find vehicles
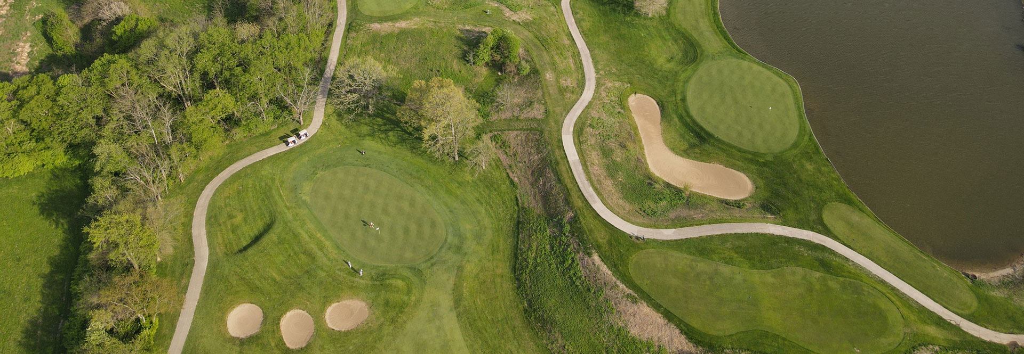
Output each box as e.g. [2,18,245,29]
[297,129,309,141]
[284,136,297,148]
